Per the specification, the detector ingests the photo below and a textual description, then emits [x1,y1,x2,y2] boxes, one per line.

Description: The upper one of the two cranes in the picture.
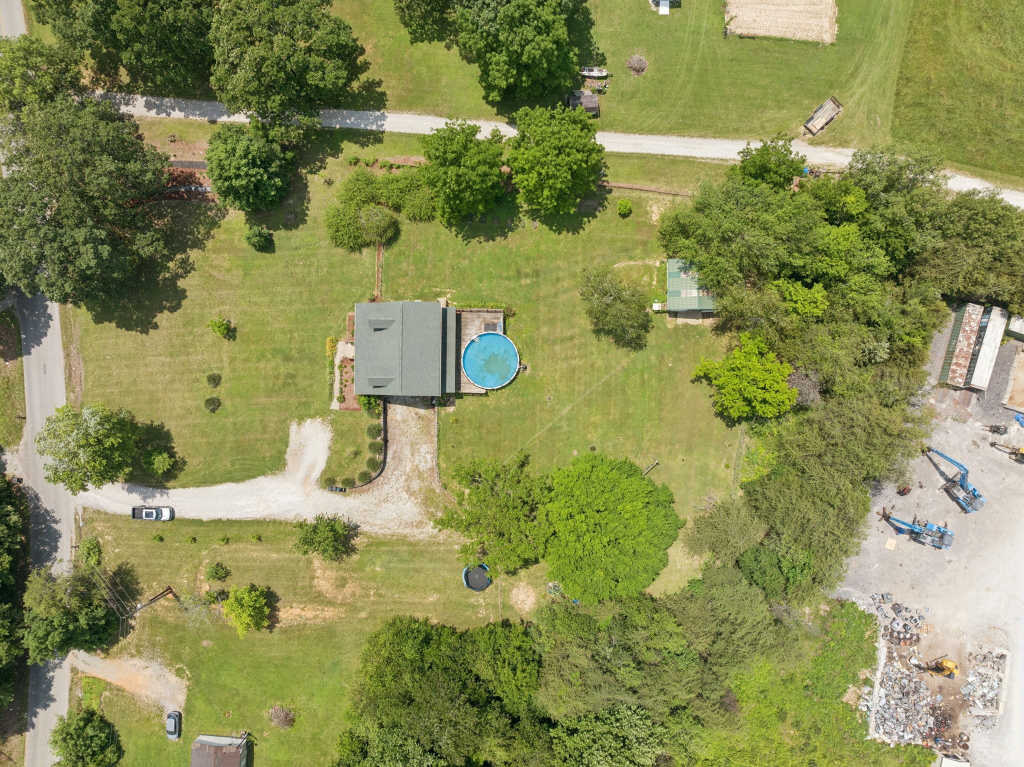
[920,435,988,518]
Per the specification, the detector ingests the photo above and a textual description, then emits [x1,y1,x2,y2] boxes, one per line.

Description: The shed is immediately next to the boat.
[569,92,599,118]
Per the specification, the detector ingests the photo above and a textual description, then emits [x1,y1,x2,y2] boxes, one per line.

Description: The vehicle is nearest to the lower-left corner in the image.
[164,709,182,740]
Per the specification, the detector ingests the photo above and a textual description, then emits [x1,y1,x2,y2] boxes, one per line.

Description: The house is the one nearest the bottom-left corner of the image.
[191,734,249,767]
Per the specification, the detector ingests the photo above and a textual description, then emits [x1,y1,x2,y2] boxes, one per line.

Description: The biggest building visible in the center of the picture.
[352,300,456,396]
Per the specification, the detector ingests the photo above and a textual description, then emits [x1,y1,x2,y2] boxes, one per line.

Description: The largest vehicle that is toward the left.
[131,505,176,523]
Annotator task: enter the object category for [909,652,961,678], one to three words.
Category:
work vehicle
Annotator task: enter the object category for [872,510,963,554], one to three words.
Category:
crane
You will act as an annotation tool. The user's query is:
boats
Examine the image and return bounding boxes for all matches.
[578,65,611,81]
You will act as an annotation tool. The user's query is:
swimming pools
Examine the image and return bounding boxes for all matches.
[461,331,521,390]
